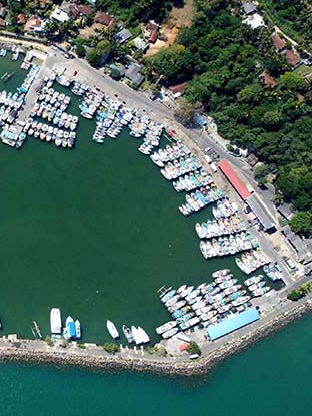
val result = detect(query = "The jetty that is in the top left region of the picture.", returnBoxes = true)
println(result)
[10,61,56,140]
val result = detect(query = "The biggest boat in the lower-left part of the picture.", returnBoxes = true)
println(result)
[50,307,62,333]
